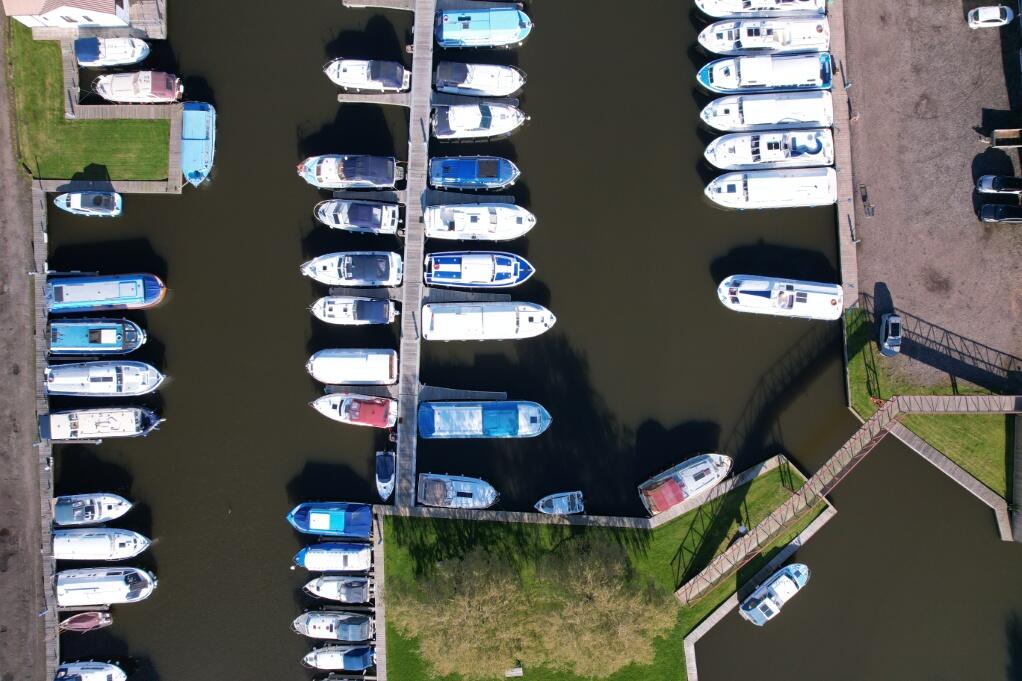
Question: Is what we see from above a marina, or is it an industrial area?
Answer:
marina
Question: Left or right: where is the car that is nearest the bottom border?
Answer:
right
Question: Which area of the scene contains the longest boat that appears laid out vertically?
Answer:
top left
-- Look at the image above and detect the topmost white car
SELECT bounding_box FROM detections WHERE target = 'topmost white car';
[965,4,1010,31]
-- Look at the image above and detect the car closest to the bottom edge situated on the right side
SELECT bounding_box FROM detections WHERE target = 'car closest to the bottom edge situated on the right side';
[876,315,903,357]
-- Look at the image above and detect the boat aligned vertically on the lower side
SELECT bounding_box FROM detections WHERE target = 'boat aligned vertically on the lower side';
[376,447,395,501]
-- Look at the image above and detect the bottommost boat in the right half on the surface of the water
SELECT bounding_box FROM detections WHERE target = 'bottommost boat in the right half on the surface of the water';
[741,565,812,625]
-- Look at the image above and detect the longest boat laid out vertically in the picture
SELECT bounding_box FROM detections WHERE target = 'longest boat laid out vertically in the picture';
[181,102,220,190]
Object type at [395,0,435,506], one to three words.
pier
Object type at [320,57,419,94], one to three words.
boat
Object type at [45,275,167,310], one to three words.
boat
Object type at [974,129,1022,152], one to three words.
trailer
